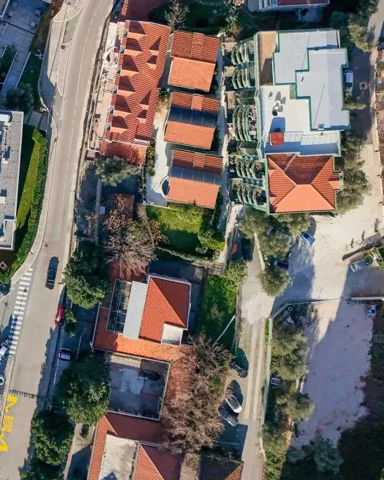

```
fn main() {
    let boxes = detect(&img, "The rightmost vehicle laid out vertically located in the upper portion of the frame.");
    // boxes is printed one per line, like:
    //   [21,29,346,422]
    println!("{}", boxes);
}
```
[343,70,355,95]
